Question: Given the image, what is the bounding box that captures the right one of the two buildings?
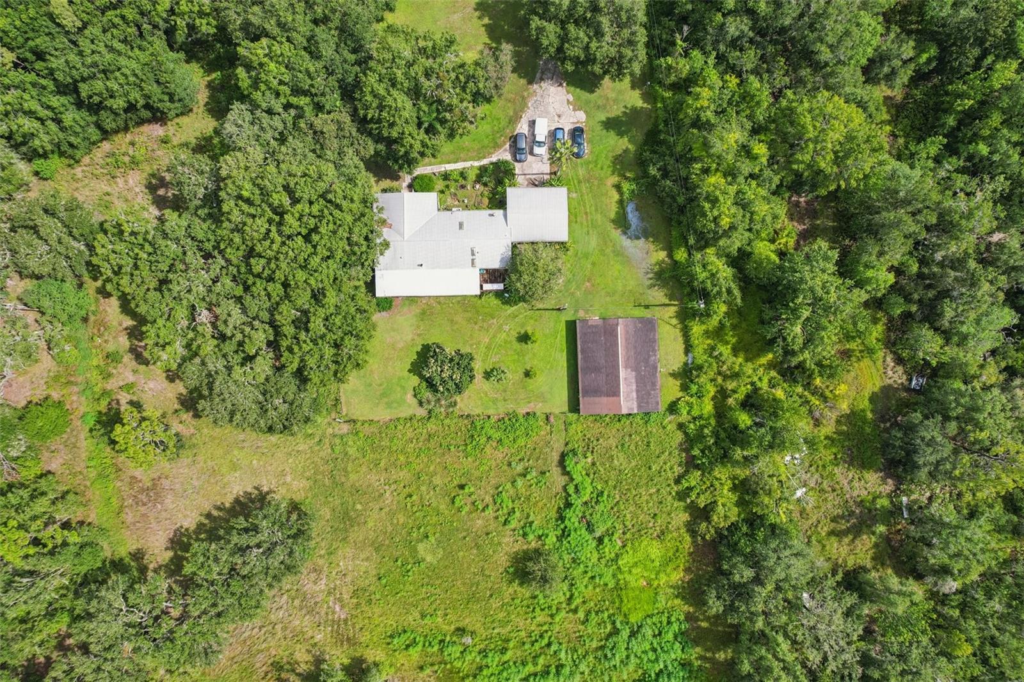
[577,317,660,414]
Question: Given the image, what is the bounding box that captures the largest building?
[375,185,568,297]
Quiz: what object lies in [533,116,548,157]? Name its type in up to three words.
vehicle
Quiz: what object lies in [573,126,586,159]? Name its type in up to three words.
vehicle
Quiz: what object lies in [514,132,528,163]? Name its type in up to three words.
car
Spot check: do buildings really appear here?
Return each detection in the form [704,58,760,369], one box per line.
[375,185,568,297]
[577,317,660,414]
